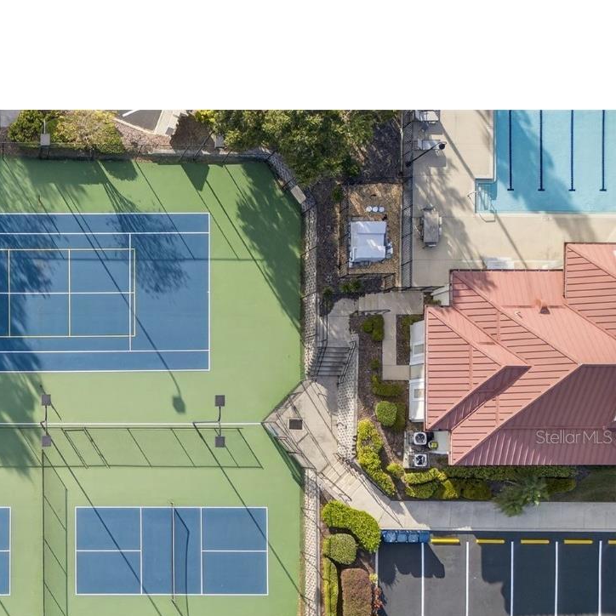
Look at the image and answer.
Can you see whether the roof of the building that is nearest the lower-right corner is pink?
Yes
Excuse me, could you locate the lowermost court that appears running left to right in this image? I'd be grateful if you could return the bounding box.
[76,507,267,596]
